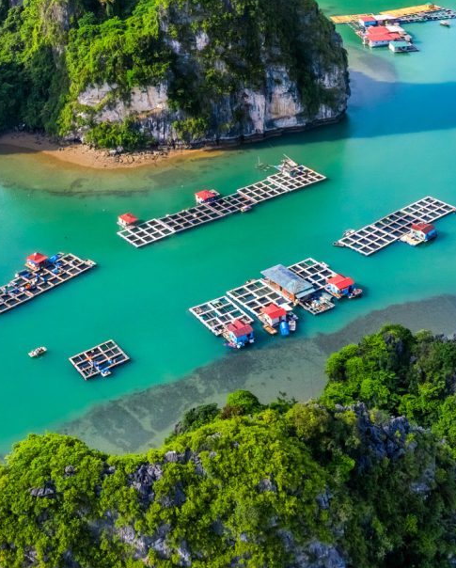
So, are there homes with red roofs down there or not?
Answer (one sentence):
Yes, the picture does show a home with a red roof.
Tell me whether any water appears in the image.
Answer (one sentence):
Yes, water can be seen from above here.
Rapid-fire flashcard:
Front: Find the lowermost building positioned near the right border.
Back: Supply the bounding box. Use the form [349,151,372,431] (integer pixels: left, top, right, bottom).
[402,221,436,247]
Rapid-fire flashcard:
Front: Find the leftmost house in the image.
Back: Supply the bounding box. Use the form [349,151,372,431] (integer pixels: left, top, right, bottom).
[21,250,47,273]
